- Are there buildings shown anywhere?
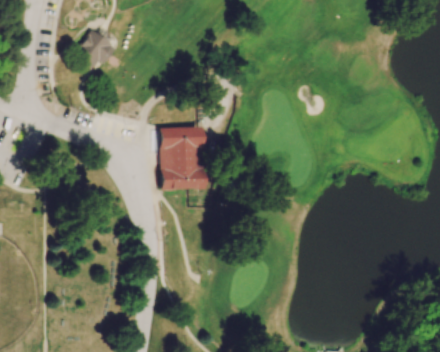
Yes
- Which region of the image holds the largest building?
center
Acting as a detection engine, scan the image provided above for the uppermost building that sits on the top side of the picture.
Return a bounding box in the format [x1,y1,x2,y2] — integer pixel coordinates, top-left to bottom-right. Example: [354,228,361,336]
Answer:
[78,30,115,69]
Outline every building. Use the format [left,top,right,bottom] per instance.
[78,30,115,69]
[160,126,209,190]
